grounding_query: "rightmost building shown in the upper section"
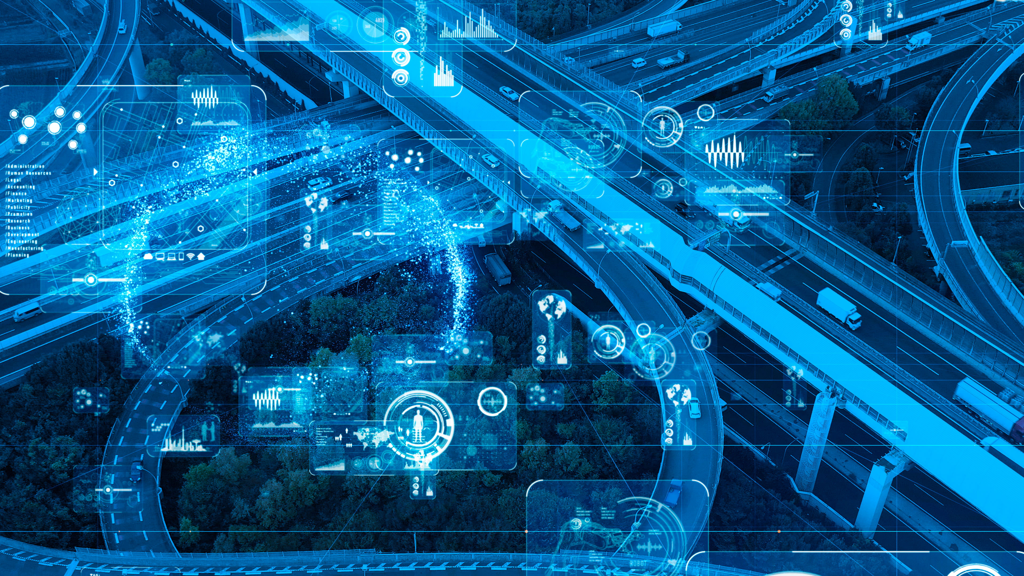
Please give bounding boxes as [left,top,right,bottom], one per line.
[957,151,1024,210]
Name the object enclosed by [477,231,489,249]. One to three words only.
vehicle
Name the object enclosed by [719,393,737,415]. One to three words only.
vehicle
